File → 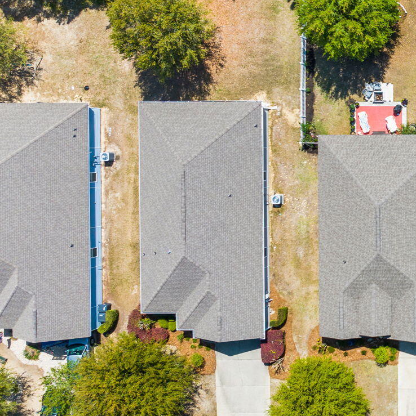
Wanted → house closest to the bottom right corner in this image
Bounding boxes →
[319,135,416,343]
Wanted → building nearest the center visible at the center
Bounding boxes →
[139,100,269,342]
